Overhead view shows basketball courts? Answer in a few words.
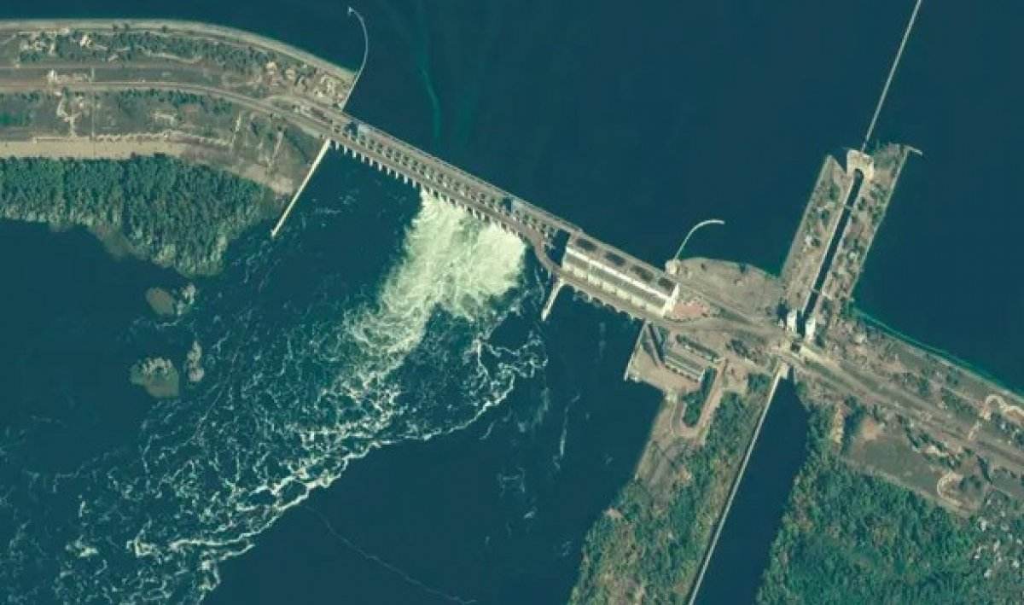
No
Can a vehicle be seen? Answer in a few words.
No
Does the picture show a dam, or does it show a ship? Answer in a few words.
dam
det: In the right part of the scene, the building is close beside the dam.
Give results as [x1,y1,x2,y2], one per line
[552,231,680,326]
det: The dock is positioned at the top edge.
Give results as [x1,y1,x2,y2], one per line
[863,0,922,152]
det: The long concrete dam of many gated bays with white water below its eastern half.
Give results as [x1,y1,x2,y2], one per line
[330,115,585,246]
